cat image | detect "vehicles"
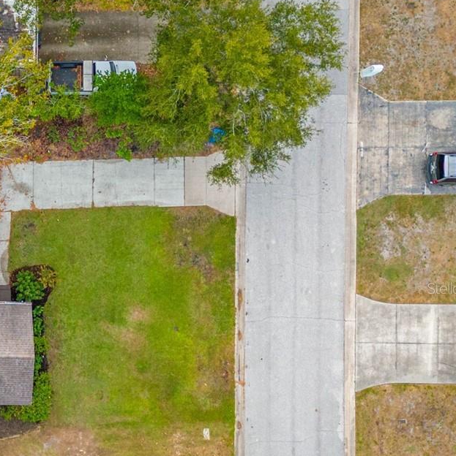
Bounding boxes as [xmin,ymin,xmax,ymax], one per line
[45,55,139,97]
[426,152,456,186]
